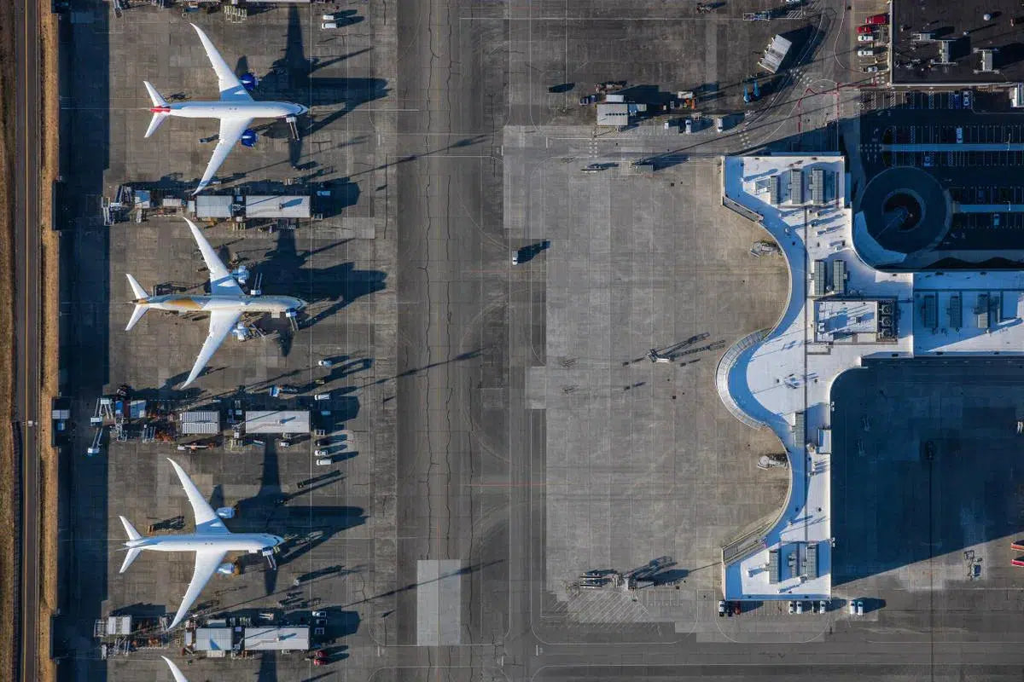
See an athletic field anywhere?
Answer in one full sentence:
No, no athletic field is visible in the view.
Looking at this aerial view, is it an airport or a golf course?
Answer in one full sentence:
The picture captures an airport.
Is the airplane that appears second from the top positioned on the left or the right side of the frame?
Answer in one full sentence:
You can find the airplane that appears second from the top on the left side of the picture.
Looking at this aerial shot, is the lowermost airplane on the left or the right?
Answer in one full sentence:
The lowermost airplane appears in the left half of the scene.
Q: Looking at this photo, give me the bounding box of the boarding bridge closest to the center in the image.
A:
[644,351,677,363]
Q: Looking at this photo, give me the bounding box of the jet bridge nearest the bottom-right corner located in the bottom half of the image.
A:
[756,455,789,469]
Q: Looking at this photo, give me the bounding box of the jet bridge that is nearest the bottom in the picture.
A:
[611,574,637,592]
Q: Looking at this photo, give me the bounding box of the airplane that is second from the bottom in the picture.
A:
[116,458,285,631]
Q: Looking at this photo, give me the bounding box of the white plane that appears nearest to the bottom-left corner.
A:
[161,658,186,682]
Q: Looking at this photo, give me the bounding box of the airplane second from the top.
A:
[121,218,309,391]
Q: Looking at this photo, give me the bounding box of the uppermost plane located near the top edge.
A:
[139,23,308,196]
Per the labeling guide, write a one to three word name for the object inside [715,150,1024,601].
building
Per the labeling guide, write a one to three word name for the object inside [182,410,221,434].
shed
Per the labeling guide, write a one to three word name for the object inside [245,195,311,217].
shed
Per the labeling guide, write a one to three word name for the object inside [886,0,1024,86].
building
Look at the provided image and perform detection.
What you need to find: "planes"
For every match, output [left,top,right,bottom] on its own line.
[139,23,308,196]
[116,458,285,631]
[121,218,309,391]
[161,658,186,682]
